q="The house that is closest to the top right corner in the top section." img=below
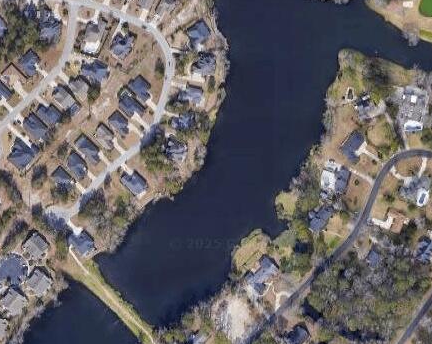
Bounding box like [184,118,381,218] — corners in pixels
[403,88,427,114]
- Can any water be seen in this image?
Yes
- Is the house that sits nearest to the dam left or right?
left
